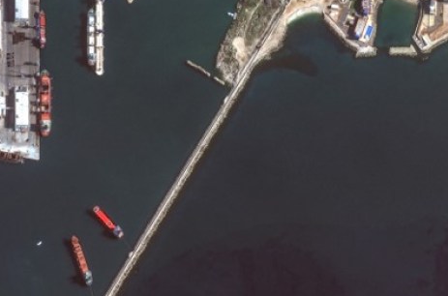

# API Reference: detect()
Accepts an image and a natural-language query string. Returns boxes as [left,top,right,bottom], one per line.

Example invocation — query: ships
[70,236,93,288]
[96,204,122,240]
[84,7,95,67]
[37,69,51,137]
[37,9,47,49]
